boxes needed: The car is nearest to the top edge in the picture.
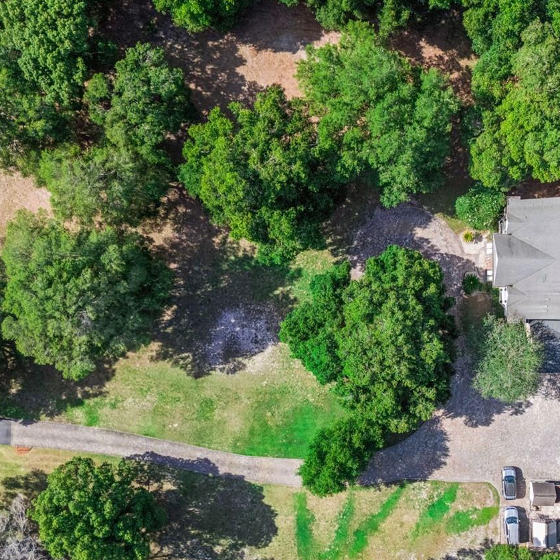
[501,466,517,498]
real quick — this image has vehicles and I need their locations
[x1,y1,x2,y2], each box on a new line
[501,466,517,498]
[503,506,519,545]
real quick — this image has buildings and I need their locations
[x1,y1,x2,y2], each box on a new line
[484,196,560,372]
[531,517,556,549]
[529,480,556,506]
